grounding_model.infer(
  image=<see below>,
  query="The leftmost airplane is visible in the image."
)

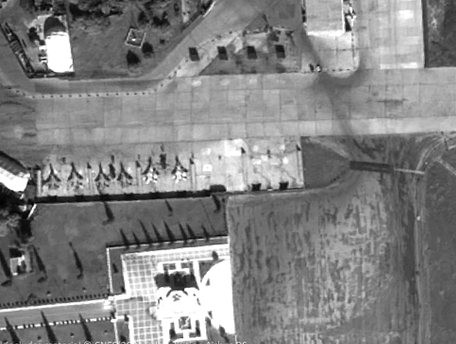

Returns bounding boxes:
[46,171,60,195]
